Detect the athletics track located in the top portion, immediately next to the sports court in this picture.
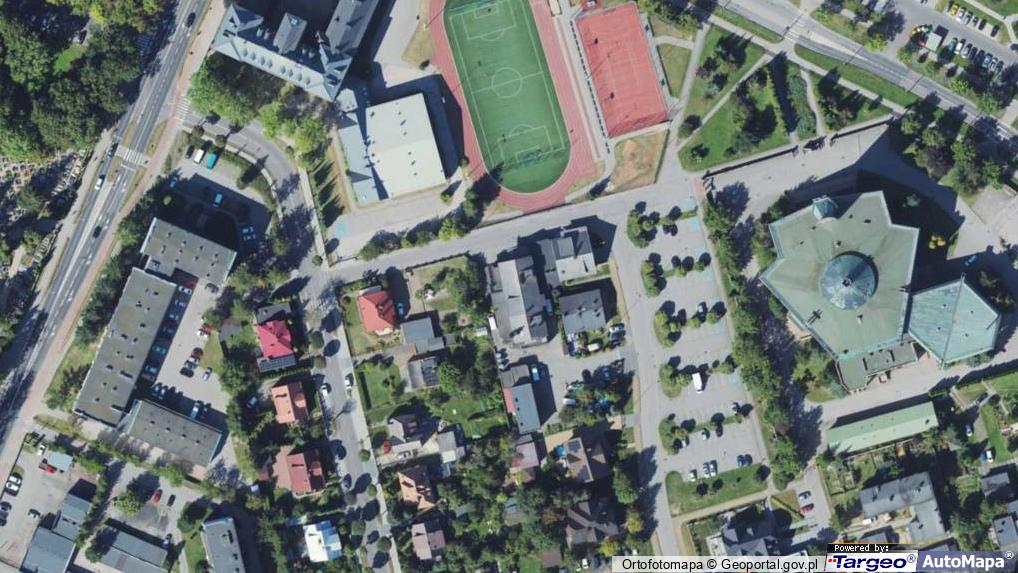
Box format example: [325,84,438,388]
[426,0,600,209]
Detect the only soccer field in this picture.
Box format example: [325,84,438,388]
[442,0,570,194]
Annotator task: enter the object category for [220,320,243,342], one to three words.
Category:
shed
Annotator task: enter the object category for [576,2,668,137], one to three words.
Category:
sports court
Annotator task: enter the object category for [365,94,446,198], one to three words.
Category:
building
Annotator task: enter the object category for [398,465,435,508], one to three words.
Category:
house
